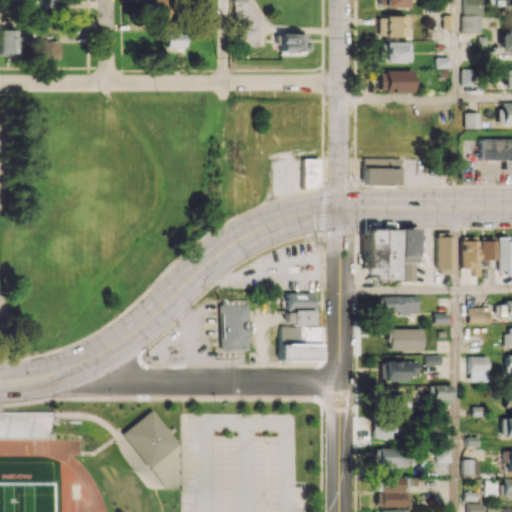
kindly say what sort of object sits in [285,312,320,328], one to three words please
building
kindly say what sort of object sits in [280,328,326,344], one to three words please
building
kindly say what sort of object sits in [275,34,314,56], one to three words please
house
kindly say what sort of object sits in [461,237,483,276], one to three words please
house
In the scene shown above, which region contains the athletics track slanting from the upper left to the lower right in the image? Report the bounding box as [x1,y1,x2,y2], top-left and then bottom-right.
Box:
[0,440,107,512]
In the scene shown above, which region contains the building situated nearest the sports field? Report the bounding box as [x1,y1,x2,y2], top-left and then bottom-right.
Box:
[126,411,182,468]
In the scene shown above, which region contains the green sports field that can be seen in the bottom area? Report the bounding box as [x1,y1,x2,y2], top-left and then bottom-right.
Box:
[0,457,62,512]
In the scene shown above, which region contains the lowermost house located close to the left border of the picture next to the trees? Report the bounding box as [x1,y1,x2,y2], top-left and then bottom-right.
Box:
[2,30,20,55]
